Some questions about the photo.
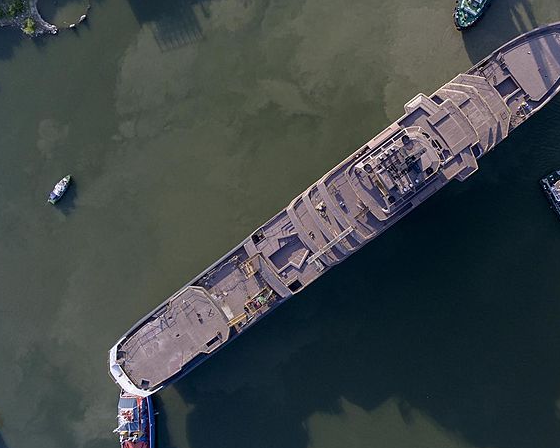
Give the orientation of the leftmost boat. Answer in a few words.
diagonally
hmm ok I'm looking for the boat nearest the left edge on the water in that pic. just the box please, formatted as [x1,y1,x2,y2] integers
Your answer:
[47,175,72,204]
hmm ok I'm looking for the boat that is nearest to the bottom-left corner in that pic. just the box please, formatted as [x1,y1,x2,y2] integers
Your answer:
[113,389,158,448]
